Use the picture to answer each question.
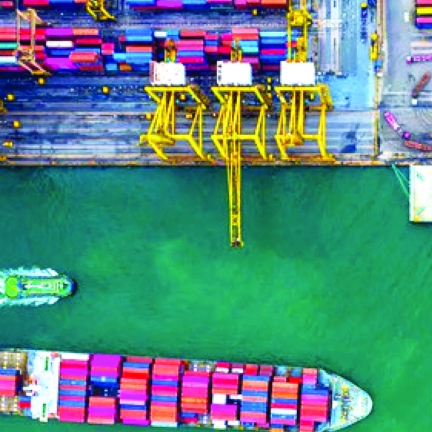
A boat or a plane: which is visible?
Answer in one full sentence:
Visible in the photo is a boat.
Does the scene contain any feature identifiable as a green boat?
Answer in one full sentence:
Yes, the picture does show a green boat.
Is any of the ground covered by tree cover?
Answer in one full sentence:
No, there is no tree cover in the image.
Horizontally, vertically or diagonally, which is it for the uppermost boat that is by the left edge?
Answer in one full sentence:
In this picture, the uppermost boat that is by the left edge lies horizontally.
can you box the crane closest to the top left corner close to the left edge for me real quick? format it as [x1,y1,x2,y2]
[16,4,51,74]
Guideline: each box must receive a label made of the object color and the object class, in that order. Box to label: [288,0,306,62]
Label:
yellow crane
